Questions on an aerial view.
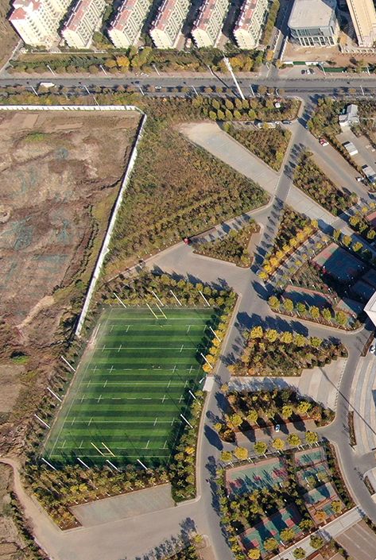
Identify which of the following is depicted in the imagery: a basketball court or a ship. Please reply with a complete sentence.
Visible in the photo is a basketball court.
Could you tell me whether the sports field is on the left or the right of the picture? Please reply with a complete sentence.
The sports field appears in the left half of the scene.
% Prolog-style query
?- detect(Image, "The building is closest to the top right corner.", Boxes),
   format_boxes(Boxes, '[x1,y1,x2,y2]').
[347,0,376,47]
